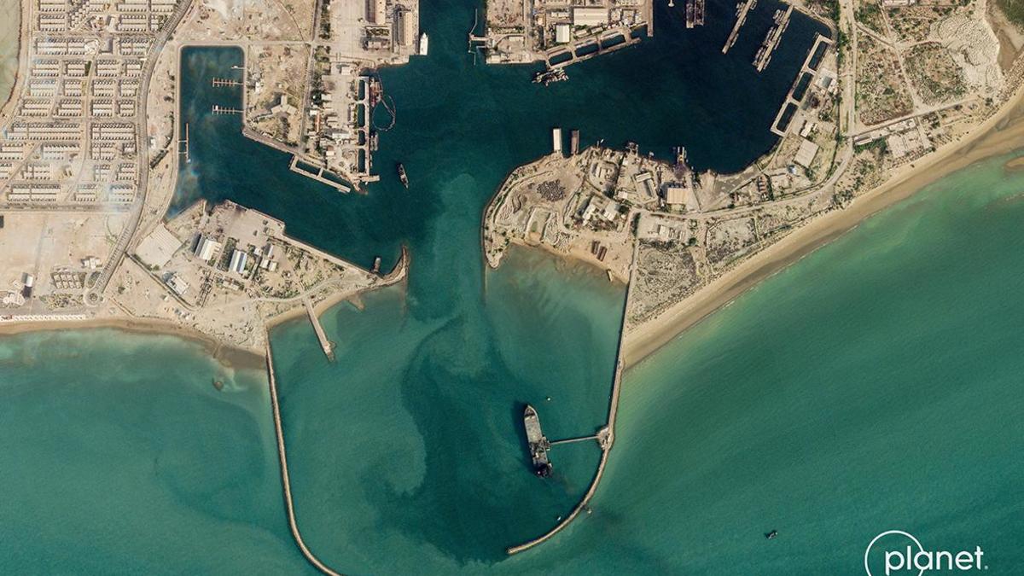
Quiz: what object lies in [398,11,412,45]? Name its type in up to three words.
building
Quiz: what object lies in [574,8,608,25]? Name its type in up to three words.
building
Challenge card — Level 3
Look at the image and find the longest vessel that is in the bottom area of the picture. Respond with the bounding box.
[524,405,548,478]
